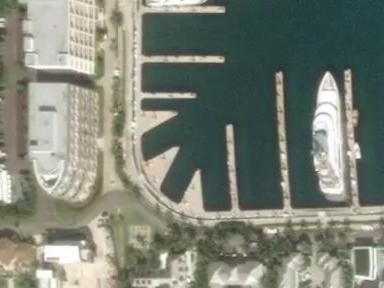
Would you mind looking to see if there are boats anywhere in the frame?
Yes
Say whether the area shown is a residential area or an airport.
residential area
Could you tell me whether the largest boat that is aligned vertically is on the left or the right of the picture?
right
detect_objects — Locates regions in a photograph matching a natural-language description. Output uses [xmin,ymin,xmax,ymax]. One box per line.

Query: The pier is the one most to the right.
[344,68,363,207]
